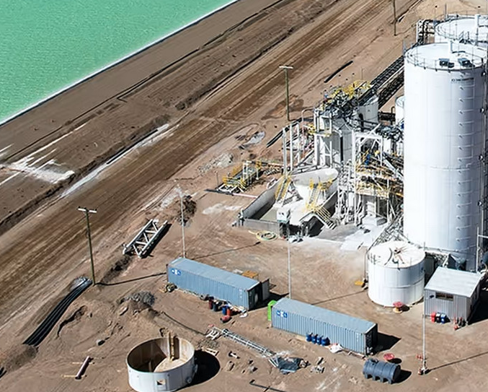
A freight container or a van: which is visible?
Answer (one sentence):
This aerial view contains a freight container.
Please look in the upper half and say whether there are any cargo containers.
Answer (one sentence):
No, I see no cargo container in the upper half.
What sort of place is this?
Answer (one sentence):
It's an industrial area.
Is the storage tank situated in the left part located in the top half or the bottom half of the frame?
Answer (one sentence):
Seen from above, the storage tank situated in the left part lies in the bottom half of the view.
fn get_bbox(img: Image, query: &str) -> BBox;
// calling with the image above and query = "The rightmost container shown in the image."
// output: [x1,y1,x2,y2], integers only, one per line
[270,296,374,355]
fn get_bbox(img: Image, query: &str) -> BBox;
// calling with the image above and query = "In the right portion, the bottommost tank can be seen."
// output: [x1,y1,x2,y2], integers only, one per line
[365,355,402,383]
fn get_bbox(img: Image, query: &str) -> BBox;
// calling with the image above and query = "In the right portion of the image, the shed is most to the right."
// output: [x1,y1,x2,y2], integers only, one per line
[424,266,480,327]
